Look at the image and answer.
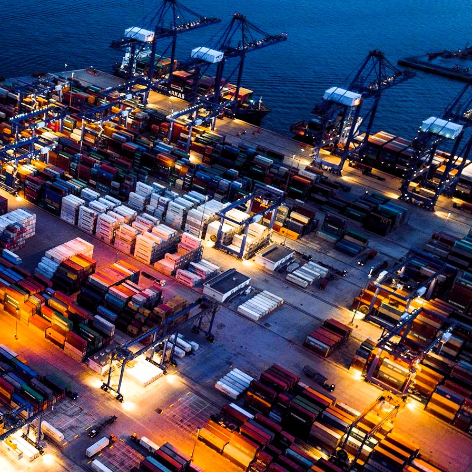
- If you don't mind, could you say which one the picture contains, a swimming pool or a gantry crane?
gantry crane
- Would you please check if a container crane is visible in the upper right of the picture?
Yes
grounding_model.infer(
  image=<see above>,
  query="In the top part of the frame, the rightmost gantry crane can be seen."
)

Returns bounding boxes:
[394,86,472,212]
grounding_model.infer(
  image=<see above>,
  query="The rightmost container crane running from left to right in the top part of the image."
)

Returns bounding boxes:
[169,103,238,143]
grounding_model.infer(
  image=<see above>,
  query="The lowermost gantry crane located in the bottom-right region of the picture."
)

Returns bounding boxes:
[328,387,415,472]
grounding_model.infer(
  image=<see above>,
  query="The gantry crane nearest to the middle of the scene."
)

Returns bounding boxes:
[212,192,296,260]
